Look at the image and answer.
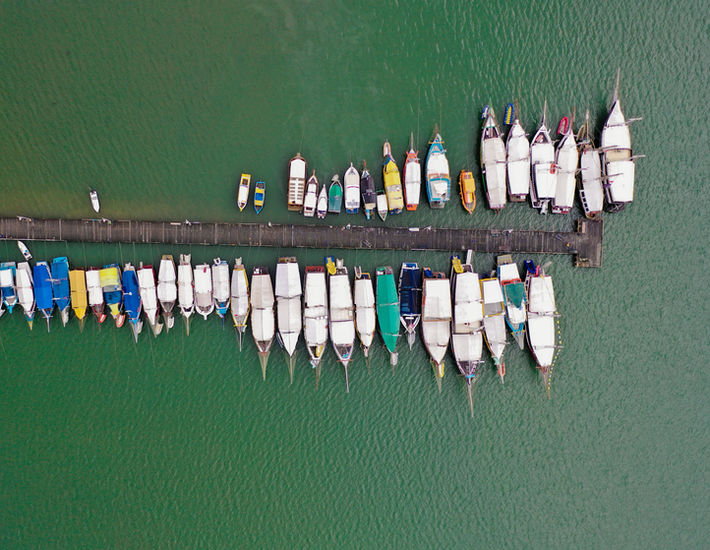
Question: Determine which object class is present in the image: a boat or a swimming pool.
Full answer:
There is a boat in the scene.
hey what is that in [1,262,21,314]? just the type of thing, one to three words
boat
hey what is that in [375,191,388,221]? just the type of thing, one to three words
boat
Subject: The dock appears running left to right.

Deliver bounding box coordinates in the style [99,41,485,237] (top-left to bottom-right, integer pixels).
[0,216,604,268]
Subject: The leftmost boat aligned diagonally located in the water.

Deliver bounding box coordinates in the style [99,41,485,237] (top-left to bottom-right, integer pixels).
[18,241,33,261]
